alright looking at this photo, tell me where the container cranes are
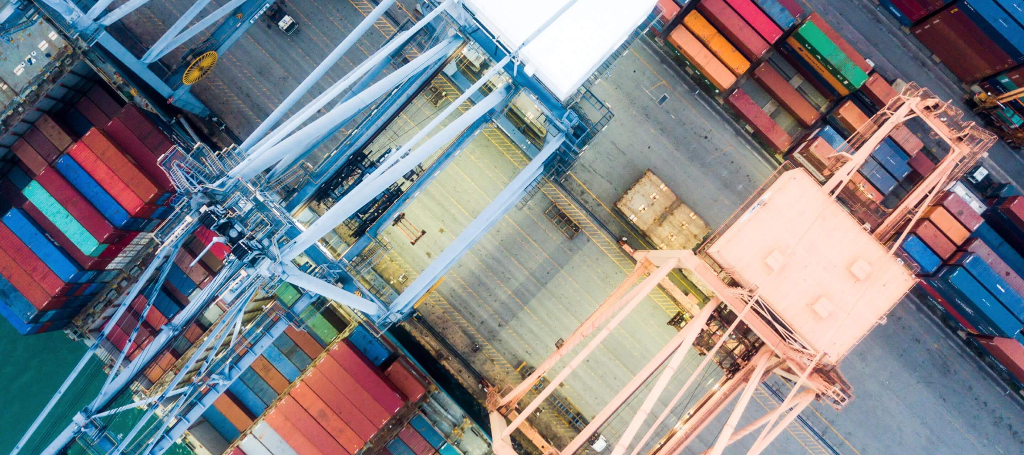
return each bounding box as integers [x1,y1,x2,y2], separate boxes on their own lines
[0,0,292,128]
[476,69,1003,455]
[12,0,675,455]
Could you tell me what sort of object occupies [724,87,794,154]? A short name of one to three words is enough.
shipping container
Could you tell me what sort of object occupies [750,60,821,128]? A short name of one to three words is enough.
shipping container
